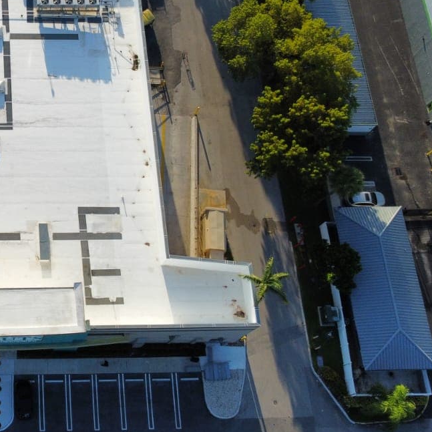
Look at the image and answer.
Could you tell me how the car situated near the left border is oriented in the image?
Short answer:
up and down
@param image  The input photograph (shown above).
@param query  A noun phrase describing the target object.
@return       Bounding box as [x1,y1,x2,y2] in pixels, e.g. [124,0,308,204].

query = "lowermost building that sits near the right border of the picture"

[333,206,432,370]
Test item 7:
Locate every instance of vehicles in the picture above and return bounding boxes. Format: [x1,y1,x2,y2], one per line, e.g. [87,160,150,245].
[14,375,37,427]
[345,188,391,207]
